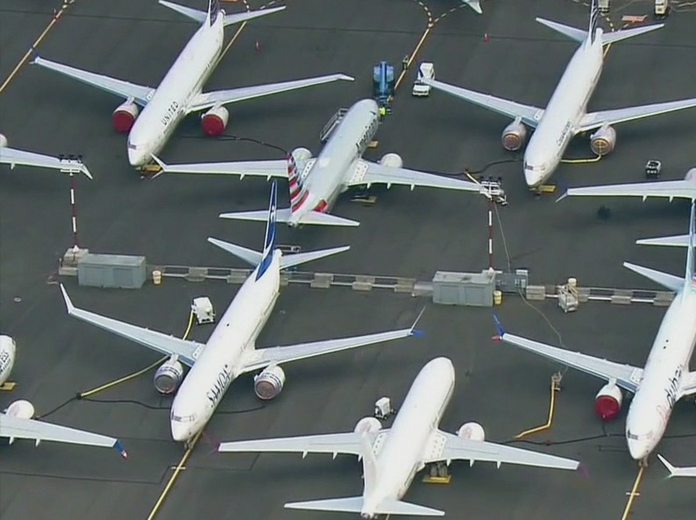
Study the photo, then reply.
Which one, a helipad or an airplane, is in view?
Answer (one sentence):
This aerial view contains an airplane.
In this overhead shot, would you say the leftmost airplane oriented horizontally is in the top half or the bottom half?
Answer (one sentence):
The top half of the photo is where the leftmost airplane oriented horizontally is.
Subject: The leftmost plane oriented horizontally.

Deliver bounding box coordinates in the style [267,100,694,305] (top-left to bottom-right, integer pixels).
[0,141,94,186]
